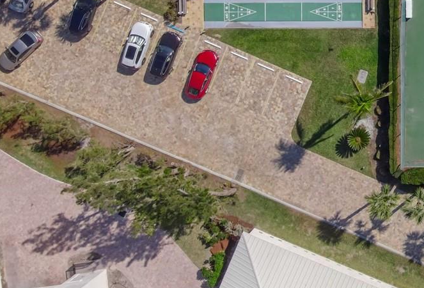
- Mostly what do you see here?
paved ground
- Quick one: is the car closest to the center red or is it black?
red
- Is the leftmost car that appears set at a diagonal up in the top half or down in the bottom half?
top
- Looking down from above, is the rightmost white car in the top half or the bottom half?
top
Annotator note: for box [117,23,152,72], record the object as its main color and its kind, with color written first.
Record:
white car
